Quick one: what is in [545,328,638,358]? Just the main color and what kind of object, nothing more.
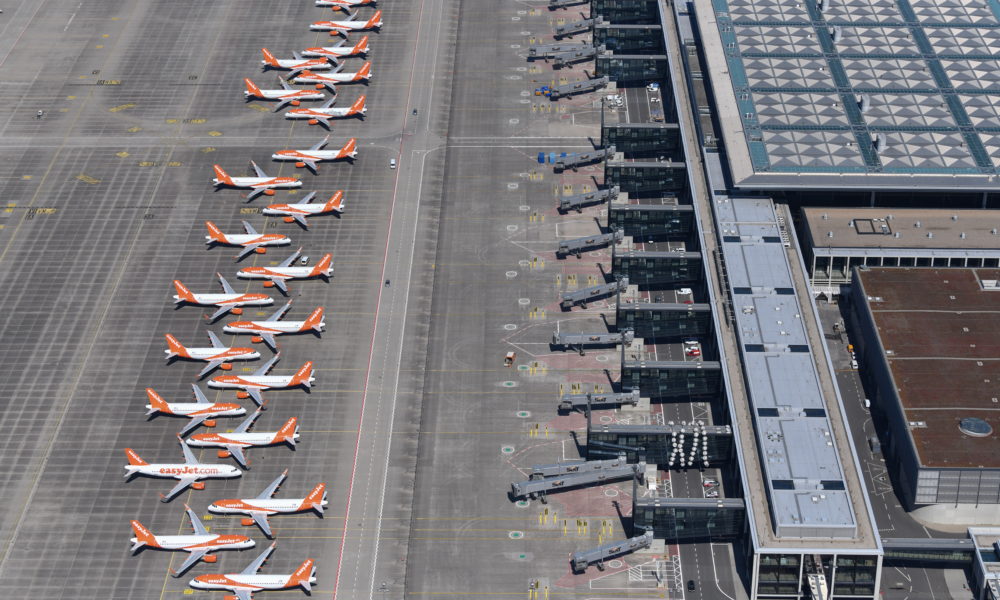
gray jet bridge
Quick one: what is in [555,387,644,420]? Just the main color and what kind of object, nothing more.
gray jet bridge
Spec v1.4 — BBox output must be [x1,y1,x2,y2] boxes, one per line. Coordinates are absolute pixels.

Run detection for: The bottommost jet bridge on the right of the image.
[567,527,657,578]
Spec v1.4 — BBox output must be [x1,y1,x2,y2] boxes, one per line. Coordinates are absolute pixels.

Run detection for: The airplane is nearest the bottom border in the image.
[189,541,315,600]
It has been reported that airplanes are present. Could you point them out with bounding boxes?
[213,160,302,199]
[237,247,334,293]
[173,273,273,321]
[223,299,324,350]
[131,504,255,577]
[244,77,325,109]
[271,135,357,171]
[302,36,369,64]
[146,382,246,437]
[285,94,367,127]
[296,61,373,91]
[164,329,261,379]
[189,541,315,600]
[311,10,383,37]
[263,190,345,228]
[315,0,379,15]
[205,220,291,260]
[189,407,302,467]
[209,470,327,537]
[208,352,314,407]
[124,437,242,501]
[262,48,331,77]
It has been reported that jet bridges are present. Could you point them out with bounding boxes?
[555,183,623,217]
[550,13,604,42]
[549,41,607,70]
[546,73,611,105]
[526,451,631,483]
[505,458,649,506]
[545,328,638,358]
[555,387,644,420]
[555,275,633,313]
[549,144,619,176]
[523,40,595,64]
[552,227,628,260]
[567,527,657,578]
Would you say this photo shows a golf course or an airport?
airport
